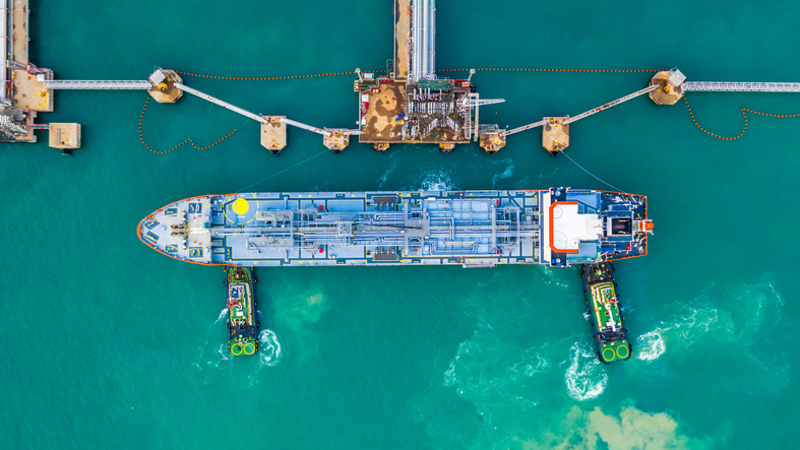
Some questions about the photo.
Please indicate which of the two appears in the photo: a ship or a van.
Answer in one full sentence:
Looking from above, you can make out a ship.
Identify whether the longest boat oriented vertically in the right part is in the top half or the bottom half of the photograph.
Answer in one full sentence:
Seen from above, the longest boat oriented vertically in the right part lies in the bottom half of the view.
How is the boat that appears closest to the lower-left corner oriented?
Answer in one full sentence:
Seen from above, the boat that appears closest to the lower-left corner lies vertically.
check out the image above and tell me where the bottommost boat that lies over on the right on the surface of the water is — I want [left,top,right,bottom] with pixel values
[583,262,634,366]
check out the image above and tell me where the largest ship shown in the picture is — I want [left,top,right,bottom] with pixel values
[137,186,655,267]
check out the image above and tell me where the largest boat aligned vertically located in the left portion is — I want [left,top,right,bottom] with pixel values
[225,266,259,360]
